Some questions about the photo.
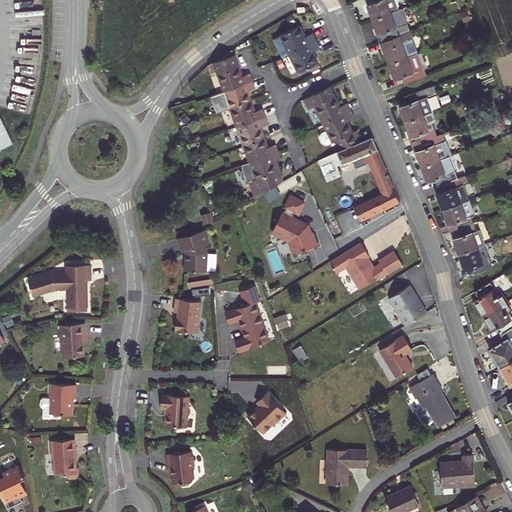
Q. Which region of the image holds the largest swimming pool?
center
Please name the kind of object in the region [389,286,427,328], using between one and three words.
house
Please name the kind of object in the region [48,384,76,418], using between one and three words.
house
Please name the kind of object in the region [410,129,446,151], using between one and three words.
building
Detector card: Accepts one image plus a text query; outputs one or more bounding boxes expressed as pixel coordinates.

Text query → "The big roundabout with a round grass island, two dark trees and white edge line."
[48,102,146,200]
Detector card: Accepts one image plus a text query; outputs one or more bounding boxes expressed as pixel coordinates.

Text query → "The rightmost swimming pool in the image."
[338,194,353,208]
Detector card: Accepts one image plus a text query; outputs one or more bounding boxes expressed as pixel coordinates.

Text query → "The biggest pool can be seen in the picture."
[266,246,286,277]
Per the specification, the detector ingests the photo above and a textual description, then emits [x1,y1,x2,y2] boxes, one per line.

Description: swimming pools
[266,246,286,277]
[338,194,353,208]
[201,340,212,353]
